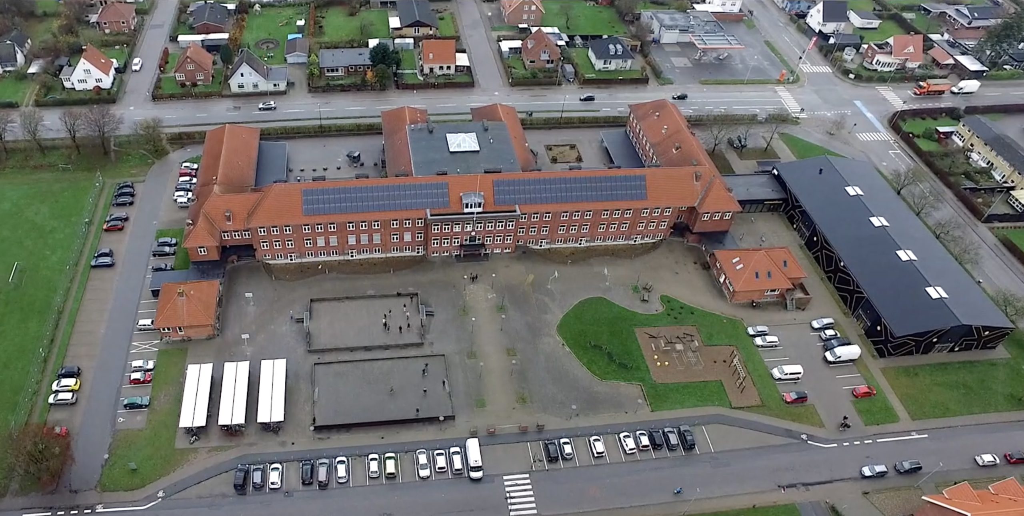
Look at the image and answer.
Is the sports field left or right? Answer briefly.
left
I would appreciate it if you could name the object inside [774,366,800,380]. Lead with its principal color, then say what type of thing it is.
white vehicle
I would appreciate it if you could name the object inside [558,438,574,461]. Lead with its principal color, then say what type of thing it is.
white car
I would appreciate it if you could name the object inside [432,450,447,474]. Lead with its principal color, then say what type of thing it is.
white car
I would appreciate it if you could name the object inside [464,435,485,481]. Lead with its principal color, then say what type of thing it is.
white vehicle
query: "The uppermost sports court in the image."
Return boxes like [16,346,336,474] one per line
[299,290,430,352]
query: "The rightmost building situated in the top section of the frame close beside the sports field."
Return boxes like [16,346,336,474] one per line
[183,99,743,266]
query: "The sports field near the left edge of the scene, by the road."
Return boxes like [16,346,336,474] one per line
[0,171,98,492]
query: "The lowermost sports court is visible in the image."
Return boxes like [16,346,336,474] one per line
[313,353,456,431]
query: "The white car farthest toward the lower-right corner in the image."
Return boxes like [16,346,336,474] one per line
[973,452,999,468]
